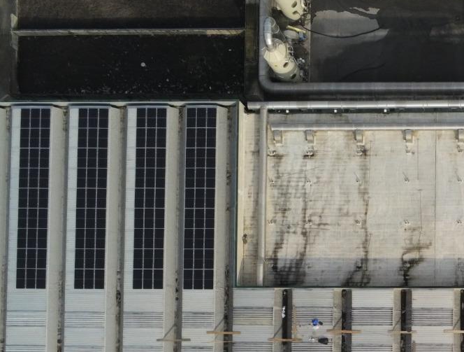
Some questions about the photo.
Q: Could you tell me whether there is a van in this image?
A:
No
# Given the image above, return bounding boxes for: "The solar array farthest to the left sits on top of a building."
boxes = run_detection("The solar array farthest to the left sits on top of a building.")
[15,108,47,289]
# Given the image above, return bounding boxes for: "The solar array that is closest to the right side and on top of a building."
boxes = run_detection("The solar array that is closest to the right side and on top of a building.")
[182,107,214,289]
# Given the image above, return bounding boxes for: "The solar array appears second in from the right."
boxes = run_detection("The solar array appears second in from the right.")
[132,107,164,289]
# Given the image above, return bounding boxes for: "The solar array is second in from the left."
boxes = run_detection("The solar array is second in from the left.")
[74,108,106,289]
